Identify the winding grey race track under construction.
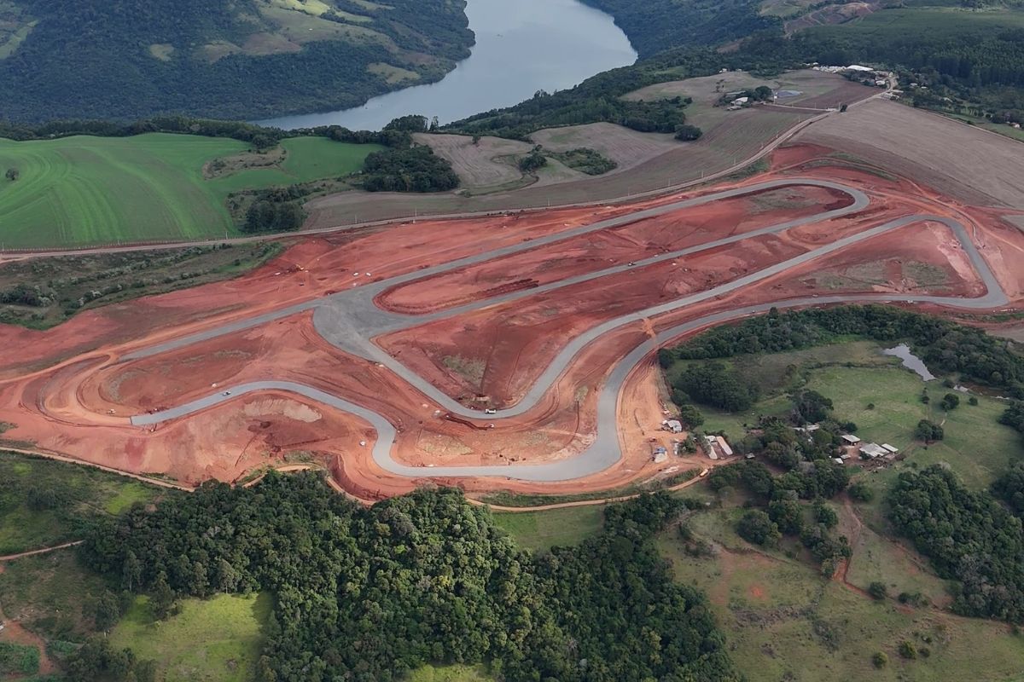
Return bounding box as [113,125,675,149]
[117,179,1007,480]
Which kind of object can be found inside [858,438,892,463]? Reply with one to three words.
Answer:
barn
